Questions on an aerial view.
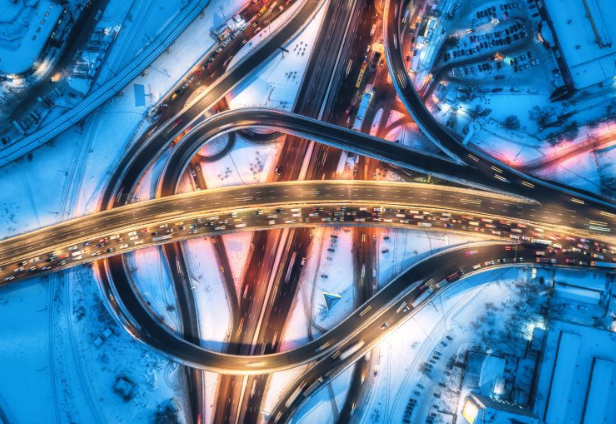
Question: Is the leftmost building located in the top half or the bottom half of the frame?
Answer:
top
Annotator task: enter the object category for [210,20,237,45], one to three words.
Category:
building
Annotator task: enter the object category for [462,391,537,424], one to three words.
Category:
building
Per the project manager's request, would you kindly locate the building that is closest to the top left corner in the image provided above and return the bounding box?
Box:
[0,0,76,77]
